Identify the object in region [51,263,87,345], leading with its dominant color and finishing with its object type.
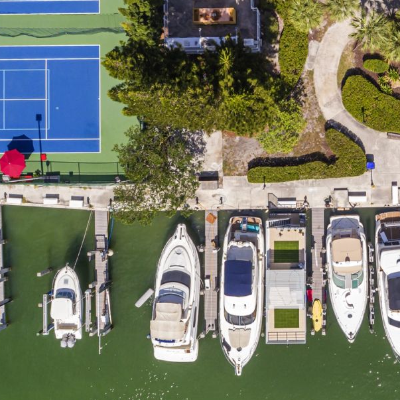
white boat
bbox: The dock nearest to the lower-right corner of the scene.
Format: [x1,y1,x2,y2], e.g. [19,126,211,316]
[312,209,324,332]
